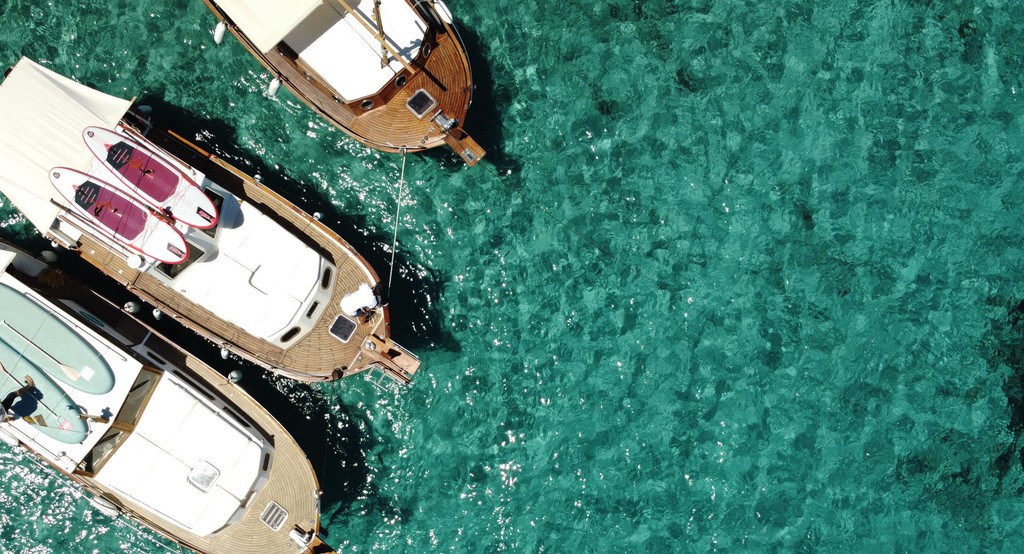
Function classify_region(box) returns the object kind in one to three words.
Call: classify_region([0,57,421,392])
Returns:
boat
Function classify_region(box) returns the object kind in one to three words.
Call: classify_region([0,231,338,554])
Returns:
boat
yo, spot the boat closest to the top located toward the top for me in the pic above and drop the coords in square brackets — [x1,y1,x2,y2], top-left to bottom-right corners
[202,0,483,162]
